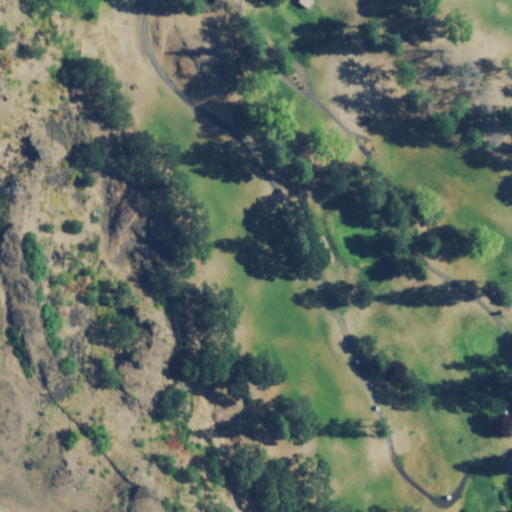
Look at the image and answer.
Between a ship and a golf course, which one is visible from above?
golf course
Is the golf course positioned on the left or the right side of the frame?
right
